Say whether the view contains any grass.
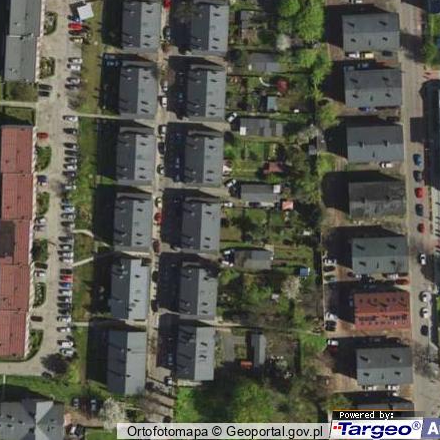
Yes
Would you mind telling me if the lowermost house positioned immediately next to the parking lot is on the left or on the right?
left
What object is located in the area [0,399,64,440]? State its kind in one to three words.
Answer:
house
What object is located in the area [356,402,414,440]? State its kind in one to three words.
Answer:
house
